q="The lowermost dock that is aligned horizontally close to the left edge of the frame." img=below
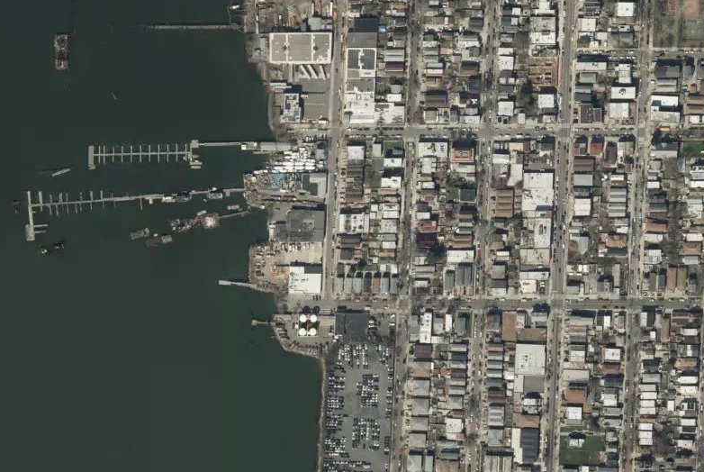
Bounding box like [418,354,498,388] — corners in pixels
[26,188,247,241]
